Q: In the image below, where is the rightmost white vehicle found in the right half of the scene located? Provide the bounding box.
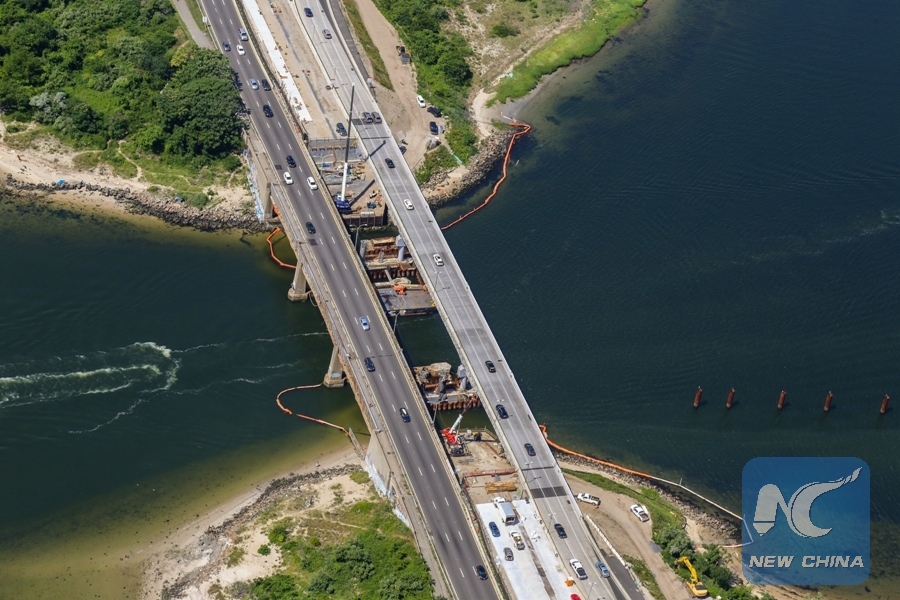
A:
[632,503,650,521]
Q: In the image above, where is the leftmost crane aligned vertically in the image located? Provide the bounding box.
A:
[333,82,359,215]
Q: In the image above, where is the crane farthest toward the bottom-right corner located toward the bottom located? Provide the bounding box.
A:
[440,396,475,456]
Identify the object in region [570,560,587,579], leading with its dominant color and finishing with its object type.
white vehicle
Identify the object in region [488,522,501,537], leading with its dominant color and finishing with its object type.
blue vehicle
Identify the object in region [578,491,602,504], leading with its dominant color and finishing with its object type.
white vehicle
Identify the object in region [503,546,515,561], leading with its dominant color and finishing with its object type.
gray vehicle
